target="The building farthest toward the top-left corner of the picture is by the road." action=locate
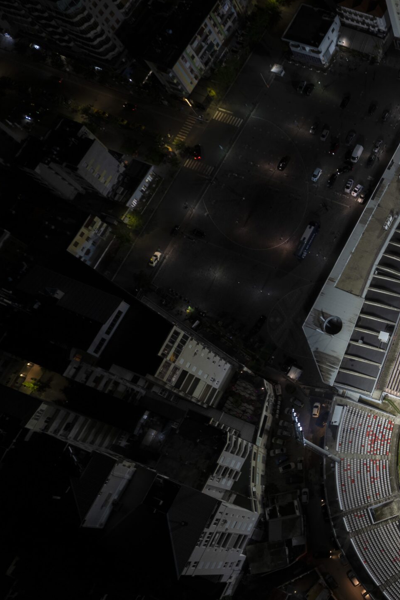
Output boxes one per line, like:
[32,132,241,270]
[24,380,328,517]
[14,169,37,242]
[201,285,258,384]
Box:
[0,0,135,70]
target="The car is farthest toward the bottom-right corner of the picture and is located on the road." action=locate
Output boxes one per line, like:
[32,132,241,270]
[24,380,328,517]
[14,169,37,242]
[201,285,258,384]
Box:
[360,585,374,600]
